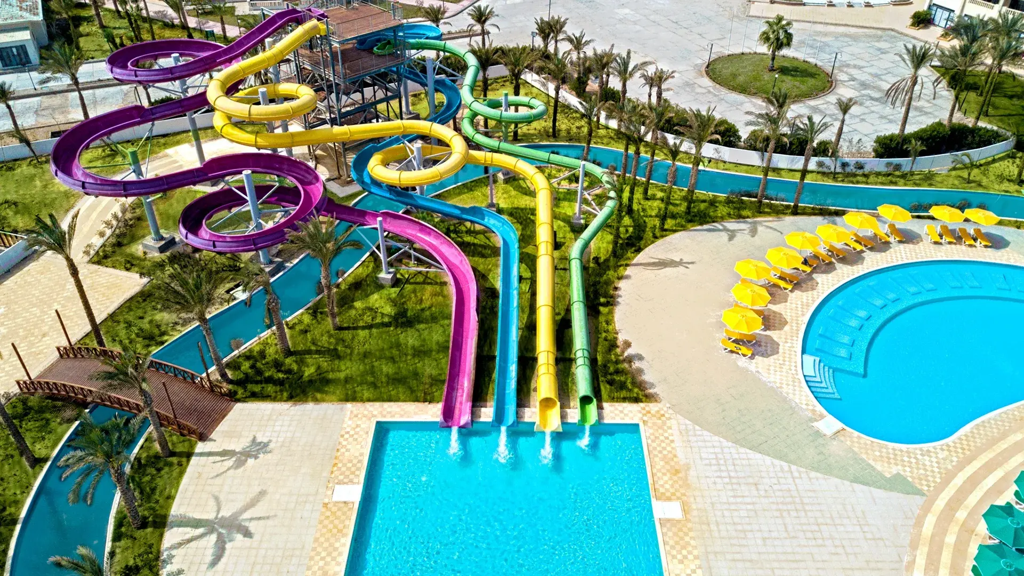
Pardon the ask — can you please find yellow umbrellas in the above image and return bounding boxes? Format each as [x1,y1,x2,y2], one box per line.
[732,256,772,281]
[814,221,853,257]
[872,202,911,235]
[720,304,763,345]
[763,245,804,281]
[927,202,964,233]
[960,205,999,235]
[783,229,822,251]
[730,280,772,305]
[838,208,878,242]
